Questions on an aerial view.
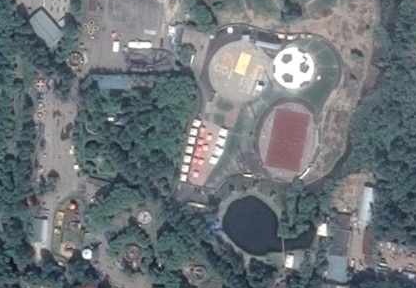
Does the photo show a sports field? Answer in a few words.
Yes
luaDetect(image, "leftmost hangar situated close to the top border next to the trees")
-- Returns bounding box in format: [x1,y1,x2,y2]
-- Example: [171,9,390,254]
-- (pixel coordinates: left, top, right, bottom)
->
[28,6,63,44]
